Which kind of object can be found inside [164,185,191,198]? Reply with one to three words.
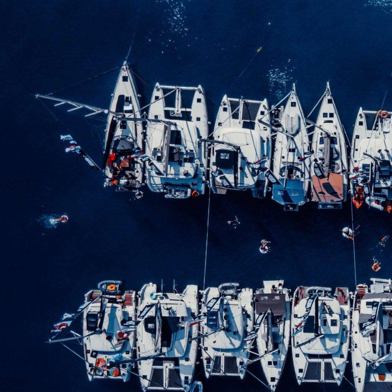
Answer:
boat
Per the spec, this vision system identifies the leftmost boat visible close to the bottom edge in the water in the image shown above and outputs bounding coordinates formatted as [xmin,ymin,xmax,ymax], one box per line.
[48,291,140,382]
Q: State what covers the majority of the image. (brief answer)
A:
water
